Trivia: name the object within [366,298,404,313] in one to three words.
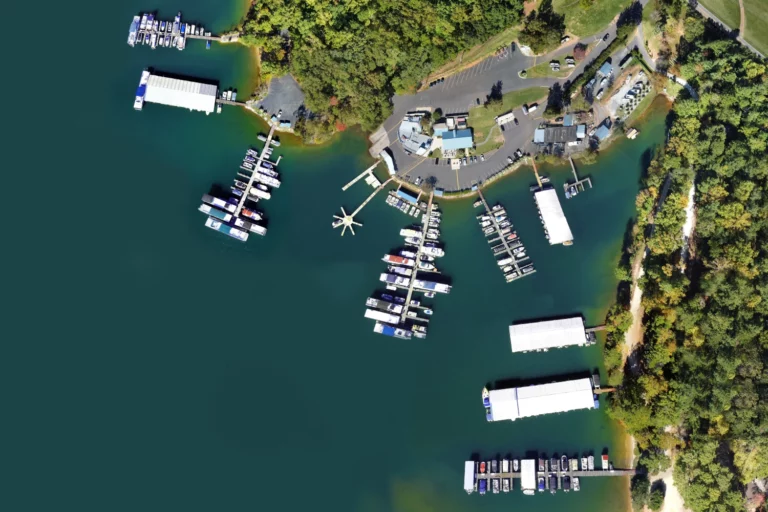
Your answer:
boat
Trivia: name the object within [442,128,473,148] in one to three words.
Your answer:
building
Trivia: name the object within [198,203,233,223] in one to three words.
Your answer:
boat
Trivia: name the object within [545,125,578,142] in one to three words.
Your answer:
building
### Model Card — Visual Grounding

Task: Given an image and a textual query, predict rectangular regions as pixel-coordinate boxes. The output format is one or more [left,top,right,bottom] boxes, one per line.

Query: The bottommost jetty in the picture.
[476,462,634,490]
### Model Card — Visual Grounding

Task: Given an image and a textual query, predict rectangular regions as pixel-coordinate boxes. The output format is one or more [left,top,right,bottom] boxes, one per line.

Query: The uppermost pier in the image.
[135,20,221,48]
